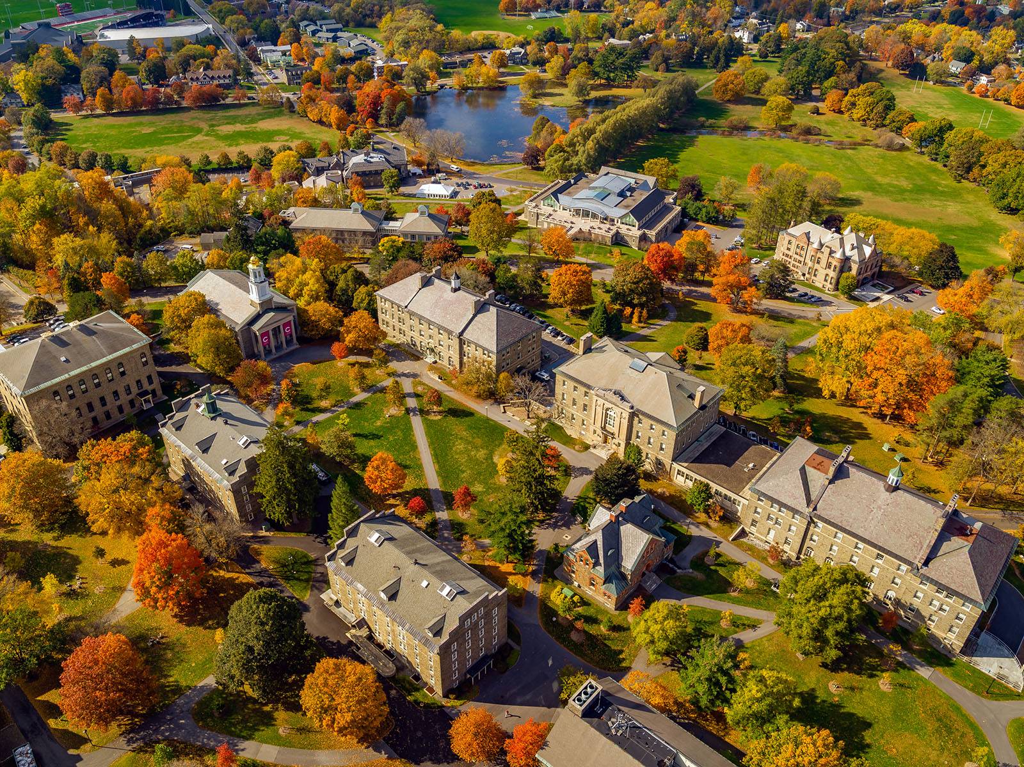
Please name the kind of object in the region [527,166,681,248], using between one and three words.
building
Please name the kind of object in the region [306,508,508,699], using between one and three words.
building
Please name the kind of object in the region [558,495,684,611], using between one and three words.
house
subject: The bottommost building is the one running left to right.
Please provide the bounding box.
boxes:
[528,669,745,767]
